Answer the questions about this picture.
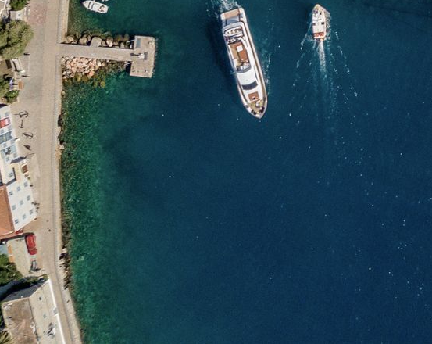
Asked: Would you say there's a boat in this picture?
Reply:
Yes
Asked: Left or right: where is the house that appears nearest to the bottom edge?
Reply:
left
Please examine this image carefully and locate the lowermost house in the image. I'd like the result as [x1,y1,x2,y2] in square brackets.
[2,270,80,344]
